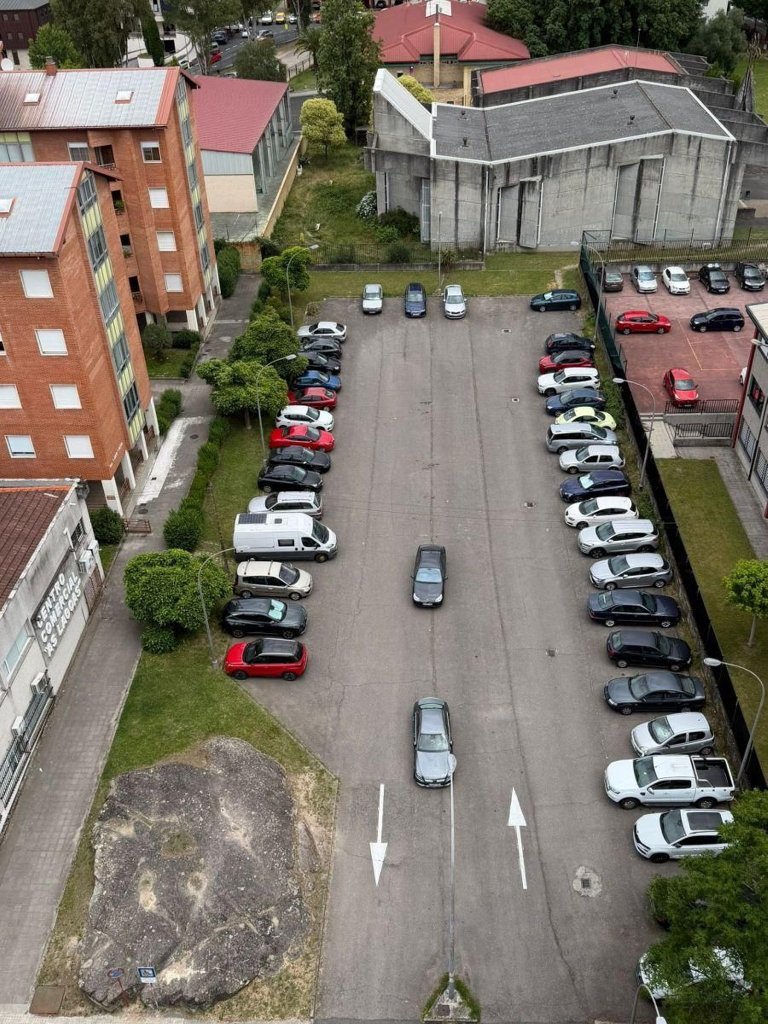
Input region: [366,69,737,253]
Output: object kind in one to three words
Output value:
church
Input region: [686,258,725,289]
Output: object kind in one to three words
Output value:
car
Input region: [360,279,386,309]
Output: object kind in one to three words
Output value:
car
